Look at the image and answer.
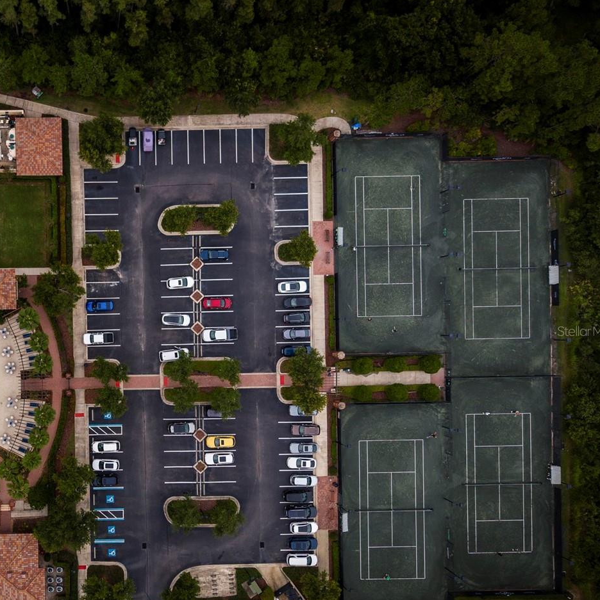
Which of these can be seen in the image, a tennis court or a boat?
tennis court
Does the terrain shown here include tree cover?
Yes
